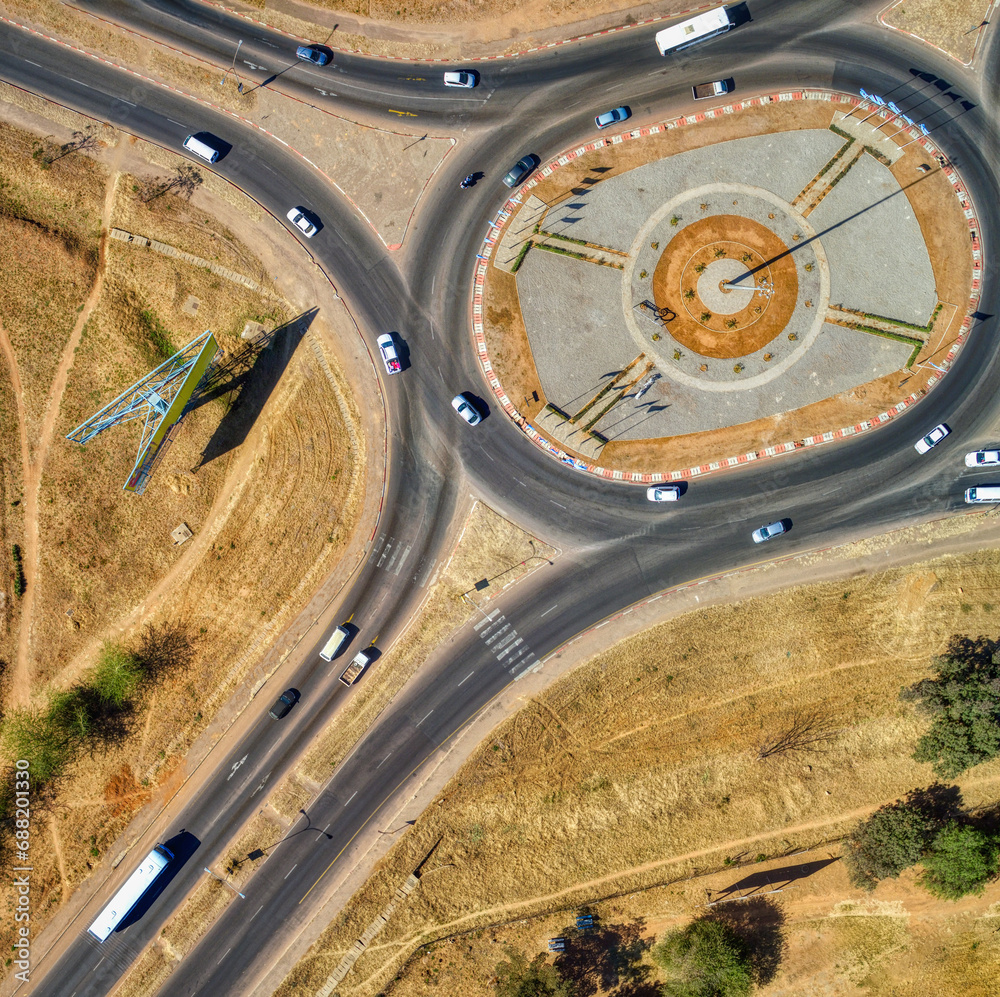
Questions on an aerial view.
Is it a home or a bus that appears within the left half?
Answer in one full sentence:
What appears within the left half is a bus.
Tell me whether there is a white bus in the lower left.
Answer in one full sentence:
Yes, a white bus shows up in the lower left.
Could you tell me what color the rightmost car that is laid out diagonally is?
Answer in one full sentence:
In this view, the rightmost car that is laid out diagonally is white.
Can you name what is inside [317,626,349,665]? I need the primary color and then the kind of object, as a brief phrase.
white vehicle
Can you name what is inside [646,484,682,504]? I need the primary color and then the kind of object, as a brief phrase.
white car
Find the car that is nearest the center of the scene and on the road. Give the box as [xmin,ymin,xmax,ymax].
[448,393,483,429]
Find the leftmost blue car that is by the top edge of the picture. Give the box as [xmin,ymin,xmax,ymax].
[293,42,330,67]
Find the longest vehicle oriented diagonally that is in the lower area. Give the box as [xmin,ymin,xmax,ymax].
[80,845,174,954]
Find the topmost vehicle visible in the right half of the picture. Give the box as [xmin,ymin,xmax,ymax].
[654,0,738,54]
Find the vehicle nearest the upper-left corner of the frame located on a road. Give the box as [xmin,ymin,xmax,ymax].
[181,134,218,162]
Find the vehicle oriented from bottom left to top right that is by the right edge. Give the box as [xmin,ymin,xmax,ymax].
[914,420,954,455]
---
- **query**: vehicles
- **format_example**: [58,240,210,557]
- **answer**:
[293,42,330,67]
[691,77,729,100]
[282,204,319,240]
[376,334,401,376]
[317,626,349,665]
[444,68,476,87]
[751,520,790,545]
[914,420,954,455]
[501,152,538,187]
[654,0,738,54]
[966,449,1000,469]
[181,134,218,162]
[448,393,483,429]
[268,687,300,723]
[966,485,1000,505]
[337,649,368,688]
[646,484,682,504]
[595,104,630,128]
[80,845,174,954]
